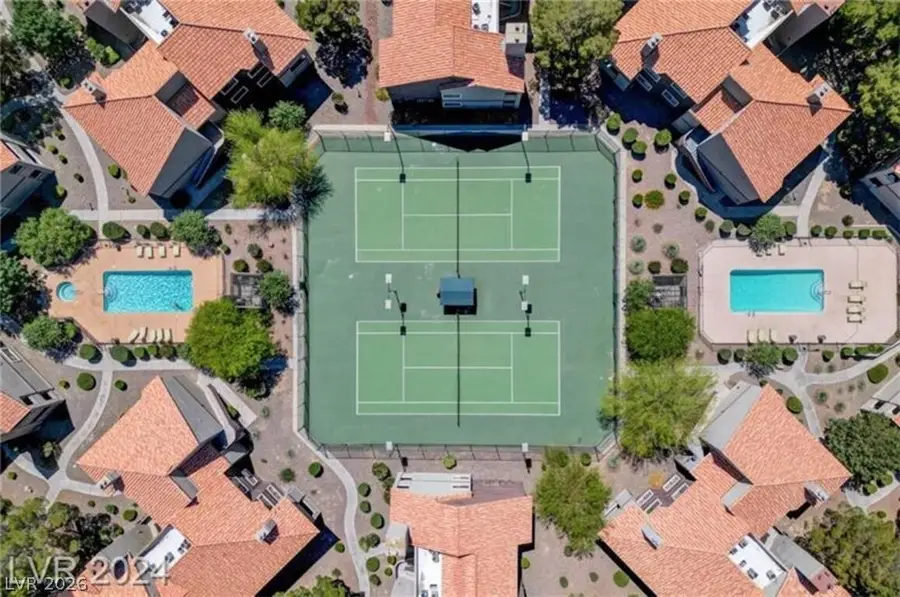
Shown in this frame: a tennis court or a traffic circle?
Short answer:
tennis court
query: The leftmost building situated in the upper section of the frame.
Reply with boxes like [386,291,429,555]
[0,118,54,223]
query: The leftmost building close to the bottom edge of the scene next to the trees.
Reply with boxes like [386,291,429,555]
[76,375,323,597]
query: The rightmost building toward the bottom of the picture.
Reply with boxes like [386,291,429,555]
[861,375,900,429]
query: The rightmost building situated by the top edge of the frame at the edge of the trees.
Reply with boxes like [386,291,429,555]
[595,0,856,205]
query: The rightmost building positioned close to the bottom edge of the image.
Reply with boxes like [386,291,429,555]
[595,382,855,597]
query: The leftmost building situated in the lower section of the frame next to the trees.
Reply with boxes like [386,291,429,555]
[0,336,65,468]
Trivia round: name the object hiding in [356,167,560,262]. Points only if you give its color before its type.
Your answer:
green tennis court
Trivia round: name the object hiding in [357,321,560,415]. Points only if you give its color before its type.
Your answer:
green tennis court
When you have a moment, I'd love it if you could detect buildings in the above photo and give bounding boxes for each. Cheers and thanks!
[0,336,65,468]
[595,0,856,205]
[863,141,900,218]
[379,0,528,105]
[62,0,313,197]
[861,375,900,429]
[386,476,533,597]
[595,382,855,597]
[0,118,54,223]
[76,375,323,597]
